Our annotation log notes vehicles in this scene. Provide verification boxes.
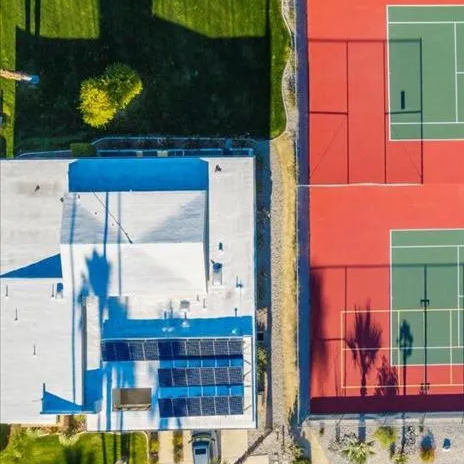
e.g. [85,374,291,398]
[185,429,214,464]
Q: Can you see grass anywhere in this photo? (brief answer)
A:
Yes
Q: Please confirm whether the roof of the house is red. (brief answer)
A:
No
